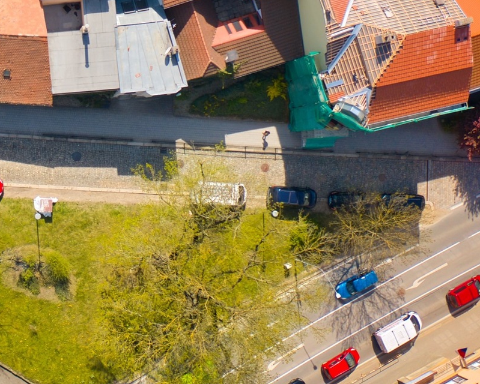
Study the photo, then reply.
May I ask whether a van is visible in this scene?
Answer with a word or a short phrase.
Yes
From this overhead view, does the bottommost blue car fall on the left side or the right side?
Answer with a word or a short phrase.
right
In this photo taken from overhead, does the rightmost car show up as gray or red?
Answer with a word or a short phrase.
red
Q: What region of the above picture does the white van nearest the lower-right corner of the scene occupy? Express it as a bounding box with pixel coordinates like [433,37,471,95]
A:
[365,310,430,358]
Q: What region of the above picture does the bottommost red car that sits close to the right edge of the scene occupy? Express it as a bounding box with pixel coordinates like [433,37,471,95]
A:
[441,274,480,312]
